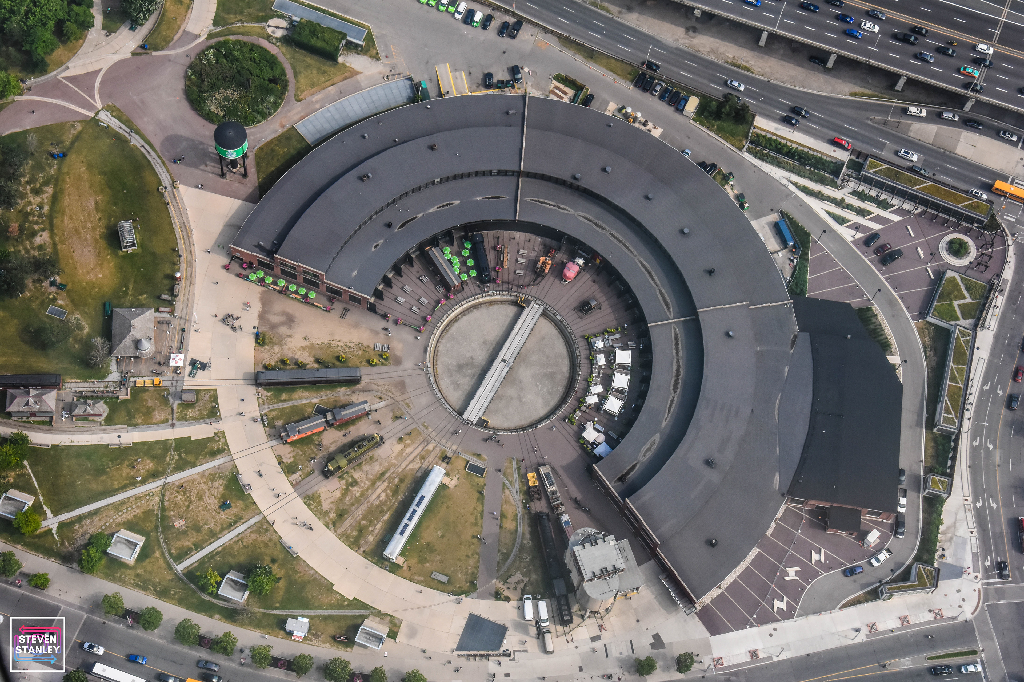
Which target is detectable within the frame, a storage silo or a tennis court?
storage silo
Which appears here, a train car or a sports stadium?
train car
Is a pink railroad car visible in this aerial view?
Yes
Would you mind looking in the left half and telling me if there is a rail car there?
Yes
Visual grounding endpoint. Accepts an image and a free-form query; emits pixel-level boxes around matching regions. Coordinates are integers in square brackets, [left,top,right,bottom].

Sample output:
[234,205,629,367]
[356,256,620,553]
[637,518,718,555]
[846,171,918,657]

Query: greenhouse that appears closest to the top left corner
[118,218,136,251]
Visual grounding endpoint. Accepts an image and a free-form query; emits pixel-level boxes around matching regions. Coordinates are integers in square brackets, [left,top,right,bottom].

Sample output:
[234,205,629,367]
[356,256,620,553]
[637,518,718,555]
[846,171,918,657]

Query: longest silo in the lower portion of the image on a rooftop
[566,546,616,616]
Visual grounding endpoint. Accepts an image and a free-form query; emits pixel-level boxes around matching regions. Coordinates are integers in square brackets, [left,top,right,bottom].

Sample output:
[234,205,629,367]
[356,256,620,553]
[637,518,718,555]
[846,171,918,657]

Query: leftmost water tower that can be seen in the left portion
[213,120,248,177]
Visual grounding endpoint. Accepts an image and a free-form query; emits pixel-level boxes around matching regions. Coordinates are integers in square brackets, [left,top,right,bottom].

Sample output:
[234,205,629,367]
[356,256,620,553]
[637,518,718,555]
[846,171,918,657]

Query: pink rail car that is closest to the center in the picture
[562,257,582,284]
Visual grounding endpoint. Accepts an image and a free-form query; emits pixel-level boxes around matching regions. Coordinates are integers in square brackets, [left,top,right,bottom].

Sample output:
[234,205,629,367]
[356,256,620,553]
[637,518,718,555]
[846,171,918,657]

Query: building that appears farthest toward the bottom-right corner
[879,563,939,599]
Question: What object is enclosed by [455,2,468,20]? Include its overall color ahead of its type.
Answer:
white vehicle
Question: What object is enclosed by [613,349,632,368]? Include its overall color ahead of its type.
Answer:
white umbrella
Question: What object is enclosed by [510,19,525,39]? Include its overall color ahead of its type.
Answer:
black vehicle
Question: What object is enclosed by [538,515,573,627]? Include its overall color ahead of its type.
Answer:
black rail car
